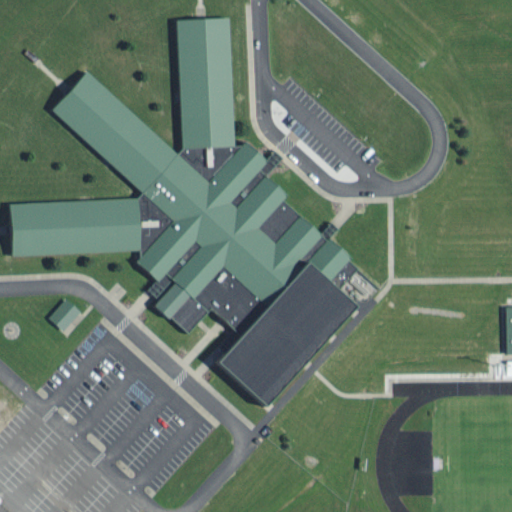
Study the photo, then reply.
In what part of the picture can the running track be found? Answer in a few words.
bottom right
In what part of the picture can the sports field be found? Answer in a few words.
bottom right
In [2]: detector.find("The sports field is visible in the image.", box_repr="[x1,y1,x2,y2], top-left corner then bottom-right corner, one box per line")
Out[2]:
[433,395,512,512]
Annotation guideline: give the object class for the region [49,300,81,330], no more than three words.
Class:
building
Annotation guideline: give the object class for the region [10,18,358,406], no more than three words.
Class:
building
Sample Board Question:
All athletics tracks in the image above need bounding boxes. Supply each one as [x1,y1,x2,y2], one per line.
[376,381,512,512]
